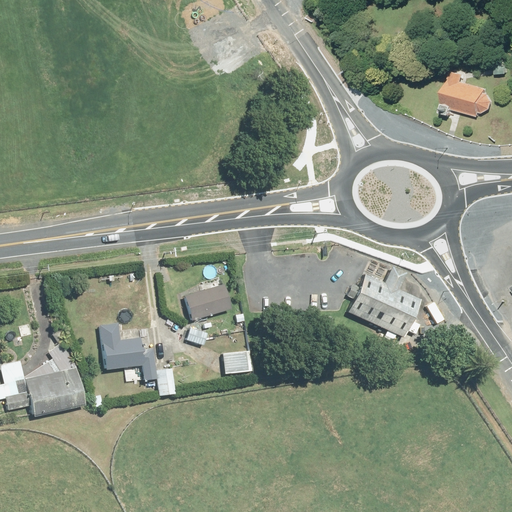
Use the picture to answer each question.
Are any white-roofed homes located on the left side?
Yes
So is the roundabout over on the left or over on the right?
right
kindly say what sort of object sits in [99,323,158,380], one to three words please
house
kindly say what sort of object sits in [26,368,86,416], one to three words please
shed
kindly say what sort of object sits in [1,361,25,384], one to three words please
house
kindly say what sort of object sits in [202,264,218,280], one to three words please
swimming pool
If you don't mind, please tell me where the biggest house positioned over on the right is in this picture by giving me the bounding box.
[346,268,422,336]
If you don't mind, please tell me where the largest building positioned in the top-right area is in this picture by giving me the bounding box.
[435,72,491,118]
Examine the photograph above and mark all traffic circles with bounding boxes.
[352,160,442,230]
